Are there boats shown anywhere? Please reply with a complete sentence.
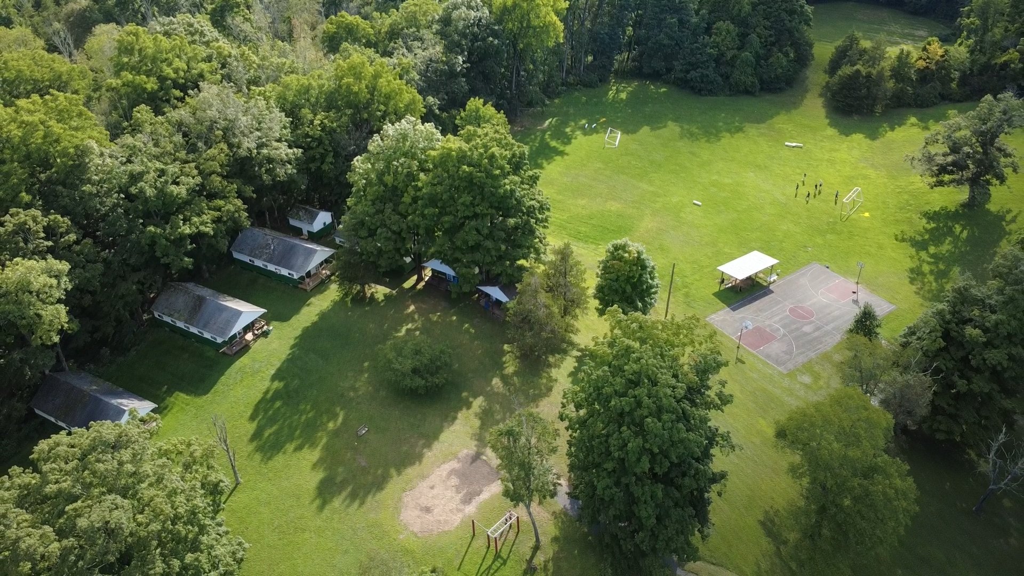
No, there's no boat here.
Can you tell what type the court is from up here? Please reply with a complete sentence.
I'd say the court is a basketball court.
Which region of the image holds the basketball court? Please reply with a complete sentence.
The basketball court is in the right part of the image.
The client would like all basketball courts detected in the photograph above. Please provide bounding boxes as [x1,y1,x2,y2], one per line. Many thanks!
[706,263,896,372]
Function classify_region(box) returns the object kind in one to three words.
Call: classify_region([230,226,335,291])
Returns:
building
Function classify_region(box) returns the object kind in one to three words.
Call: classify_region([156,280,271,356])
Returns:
building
